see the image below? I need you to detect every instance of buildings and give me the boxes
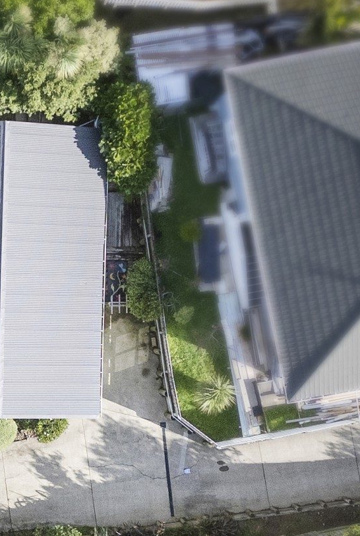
[202,36,360,412]
[0,118,108,421]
